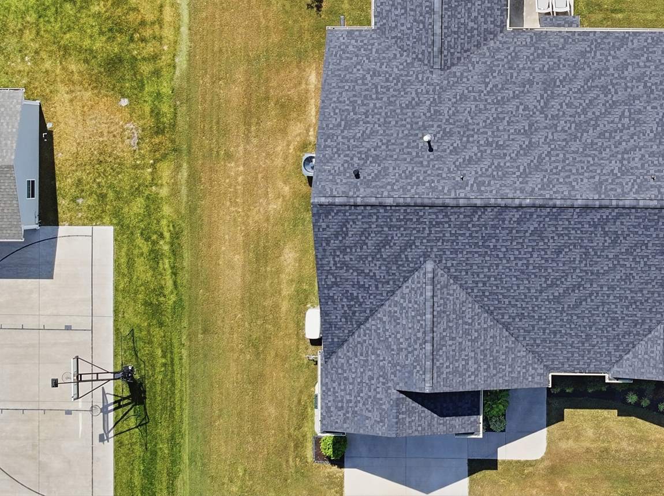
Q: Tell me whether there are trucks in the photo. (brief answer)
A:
No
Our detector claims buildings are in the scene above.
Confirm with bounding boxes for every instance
[311,0,664,437]
[0,88,46,242]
